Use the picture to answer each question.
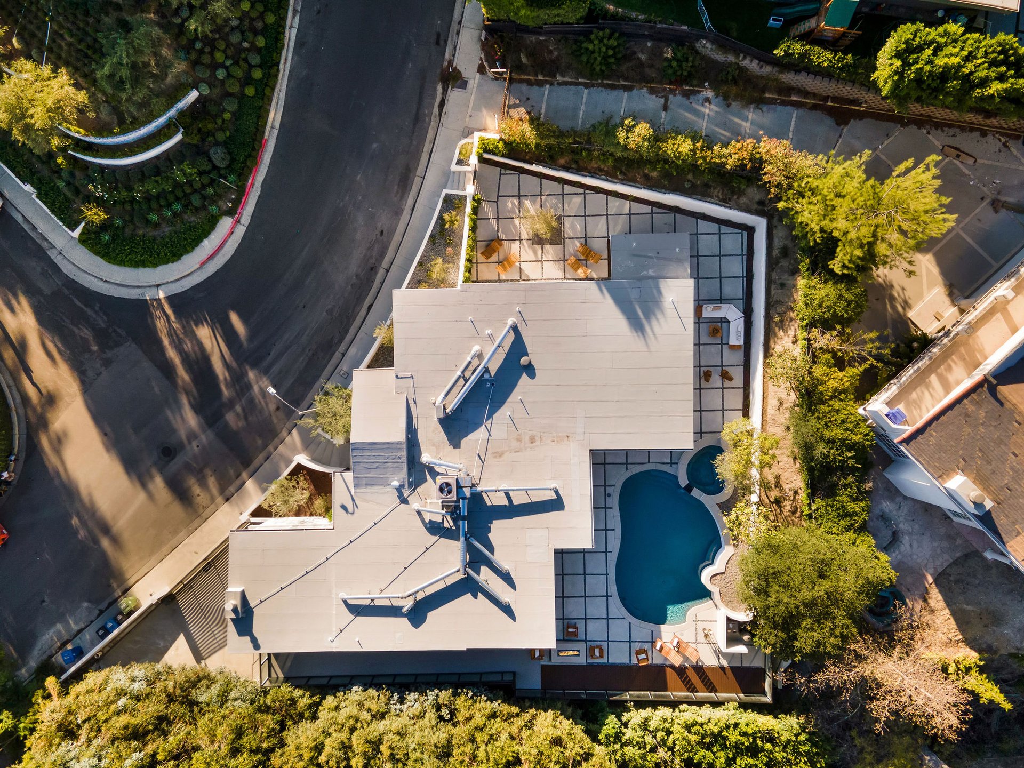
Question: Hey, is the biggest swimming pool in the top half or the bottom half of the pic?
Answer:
bottom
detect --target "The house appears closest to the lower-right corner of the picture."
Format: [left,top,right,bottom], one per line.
[847,232,1024,589]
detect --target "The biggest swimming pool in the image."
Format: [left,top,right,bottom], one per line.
[610,464,721,631]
